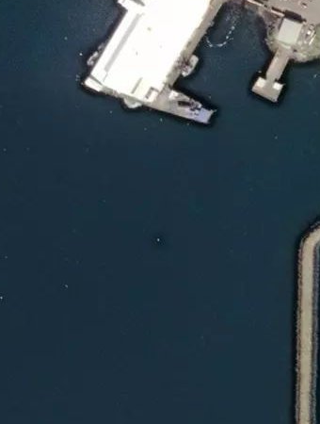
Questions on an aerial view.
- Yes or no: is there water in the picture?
Yes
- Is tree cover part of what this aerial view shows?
No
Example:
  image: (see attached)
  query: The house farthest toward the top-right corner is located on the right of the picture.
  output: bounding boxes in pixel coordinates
[278,18,301,43]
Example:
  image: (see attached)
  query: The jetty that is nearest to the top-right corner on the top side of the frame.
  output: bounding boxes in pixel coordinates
[266,46,289,81]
